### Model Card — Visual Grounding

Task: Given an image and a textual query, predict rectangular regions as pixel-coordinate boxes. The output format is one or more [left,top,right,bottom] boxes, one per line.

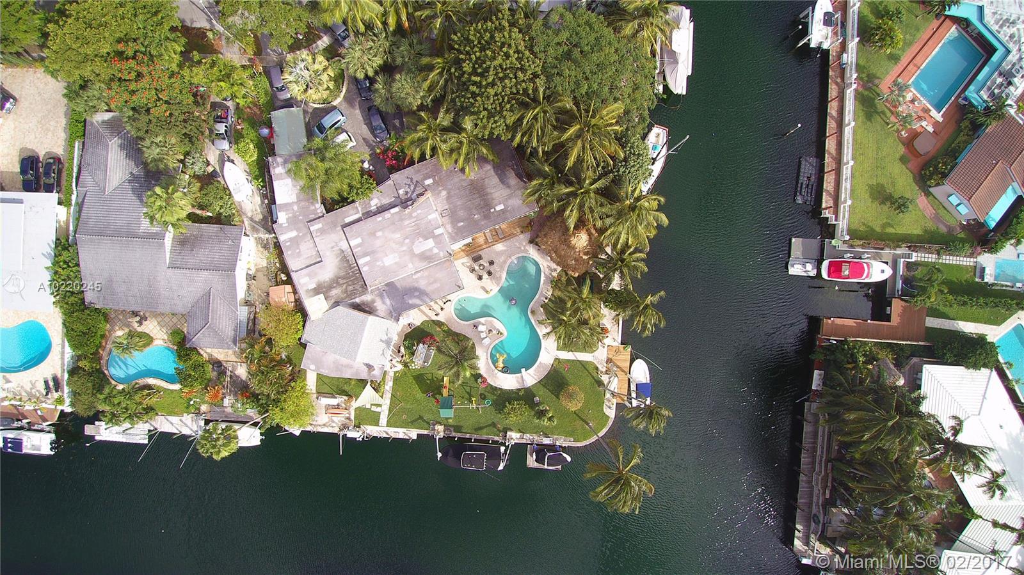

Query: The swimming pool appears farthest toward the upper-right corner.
[908,22,988,116]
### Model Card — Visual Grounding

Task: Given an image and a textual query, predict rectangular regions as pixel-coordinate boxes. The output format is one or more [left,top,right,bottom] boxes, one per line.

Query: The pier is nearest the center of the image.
[607,346,630,402]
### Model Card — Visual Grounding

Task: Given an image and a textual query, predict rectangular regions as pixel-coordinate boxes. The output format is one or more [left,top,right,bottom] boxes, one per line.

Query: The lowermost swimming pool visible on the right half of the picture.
[994,319,1024,399]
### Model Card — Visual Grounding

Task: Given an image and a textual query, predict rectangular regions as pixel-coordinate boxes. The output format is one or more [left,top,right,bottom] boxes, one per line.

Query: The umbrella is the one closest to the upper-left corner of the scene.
[257,125,271,138]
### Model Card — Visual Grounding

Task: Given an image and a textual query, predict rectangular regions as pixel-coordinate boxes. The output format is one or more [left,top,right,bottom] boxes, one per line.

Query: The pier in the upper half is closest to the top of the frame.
[796,157,821,204]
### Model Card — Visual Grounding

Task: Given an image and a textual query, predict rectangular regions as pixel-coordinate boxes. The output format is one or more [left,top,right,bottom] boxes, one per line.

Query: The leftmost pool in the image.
[0,318,54,376]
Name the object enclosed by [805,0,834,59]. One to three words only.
boat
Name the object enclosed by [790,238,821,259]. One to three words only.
pier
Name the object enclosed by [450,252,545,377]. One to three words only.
swimming pool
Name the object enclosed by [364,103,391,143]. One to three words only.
car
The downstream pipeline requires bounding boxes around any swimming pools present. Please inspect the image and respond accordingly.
[0,318,54,376]
[450,252,545,377]
[104,342,183,387]
[908,22,988,116]
[994,319,1024,399]
[993,256,1024,286]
